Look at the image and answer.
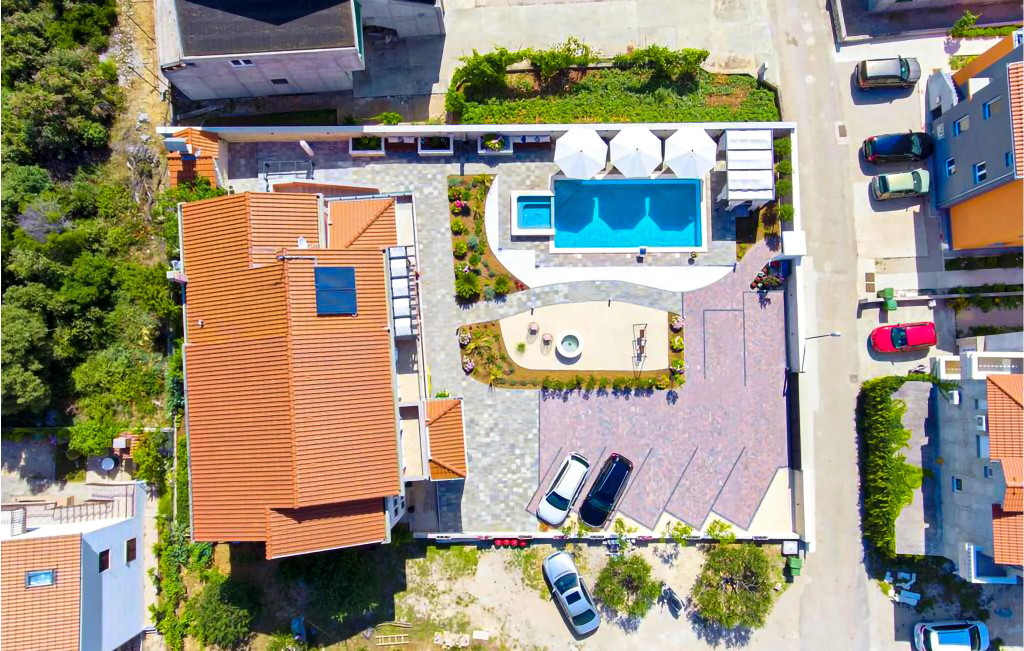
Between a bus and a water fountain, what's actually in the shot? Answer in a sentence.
It is a water fountain that can be seen here.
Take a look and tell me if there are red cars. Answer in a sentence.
Yes, the image includes a red car.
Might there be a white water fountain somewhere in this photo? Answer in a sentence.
Yes, the image includes a white water fountain.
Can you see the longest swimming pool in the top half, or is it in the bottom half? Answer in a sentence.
The longest swimming pool sits in the top half of the picture.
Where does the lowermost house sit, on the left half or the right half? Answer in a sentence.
You can find the lowermost house on the left side of the picture.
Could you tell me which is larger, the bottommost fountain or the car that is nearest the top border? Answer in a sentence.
The car takes up more space than the fountain does.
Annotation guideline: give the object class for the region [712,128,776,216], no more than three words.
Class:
gazebo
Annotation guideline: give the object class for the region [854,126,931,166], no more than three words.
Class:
car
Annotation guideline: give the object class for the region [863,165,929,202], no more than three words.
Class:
car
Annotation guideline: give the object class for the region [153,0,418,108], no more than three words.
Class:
house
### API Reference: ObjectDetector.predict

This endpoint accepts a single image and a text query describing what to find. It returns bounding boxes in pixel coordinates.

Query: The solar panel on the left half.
[315,266,358,317]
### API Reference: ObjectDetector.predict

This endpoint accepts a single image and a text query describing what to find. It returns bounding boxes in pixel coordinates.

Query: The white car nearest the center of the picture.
[536,450,592,529]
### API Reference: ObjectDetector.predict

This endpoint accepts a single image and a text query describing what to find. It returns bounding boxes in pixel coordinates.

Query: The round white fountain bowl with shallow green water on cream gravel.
[556,330,584,358]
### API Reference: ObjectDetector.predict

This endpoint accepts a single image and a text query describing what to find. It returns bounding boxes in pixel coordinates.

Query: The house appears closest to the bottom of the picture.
[0,514,146,651]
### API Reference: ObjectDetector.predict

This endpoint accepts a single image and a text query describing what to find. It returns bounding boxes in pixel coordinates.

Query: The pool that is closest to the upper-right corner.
[549,175,708,254]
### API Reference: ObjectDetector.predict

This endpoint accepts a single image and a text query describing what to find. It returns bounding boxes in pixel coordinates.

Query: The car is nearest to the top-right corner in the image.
[846,52,921,95]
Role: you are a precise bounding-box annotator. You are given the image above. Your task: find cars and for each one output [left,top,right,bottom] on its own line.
[536,450,592,529]
[863,165,929,202]
[854,126,931,166]
[864,317,939,354]
[541,546,601,639]
[846,52,921,95]
[580,449,634,530]
[905,618,989,651]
